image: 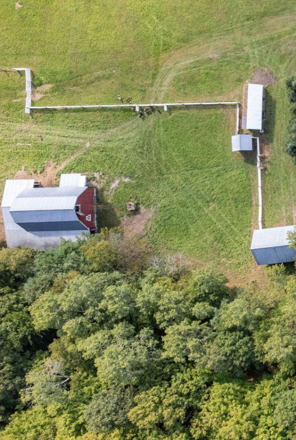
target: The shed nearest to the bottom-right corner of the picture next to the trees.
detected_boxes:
[252,224,296,265]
